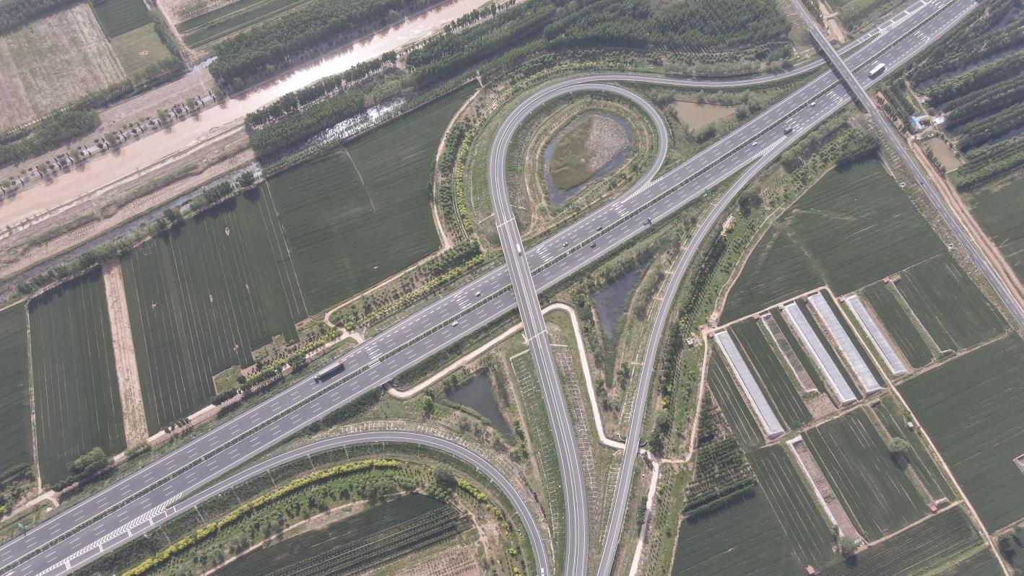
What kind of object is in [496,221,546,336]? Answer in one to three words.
overpass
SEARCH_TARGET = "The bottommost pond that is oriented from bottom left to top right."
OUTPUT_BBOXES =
[592,261,645,339]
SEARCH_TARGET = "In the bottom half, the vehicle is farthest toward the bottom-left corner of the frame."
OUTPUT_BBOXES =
[316,365,340,381]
